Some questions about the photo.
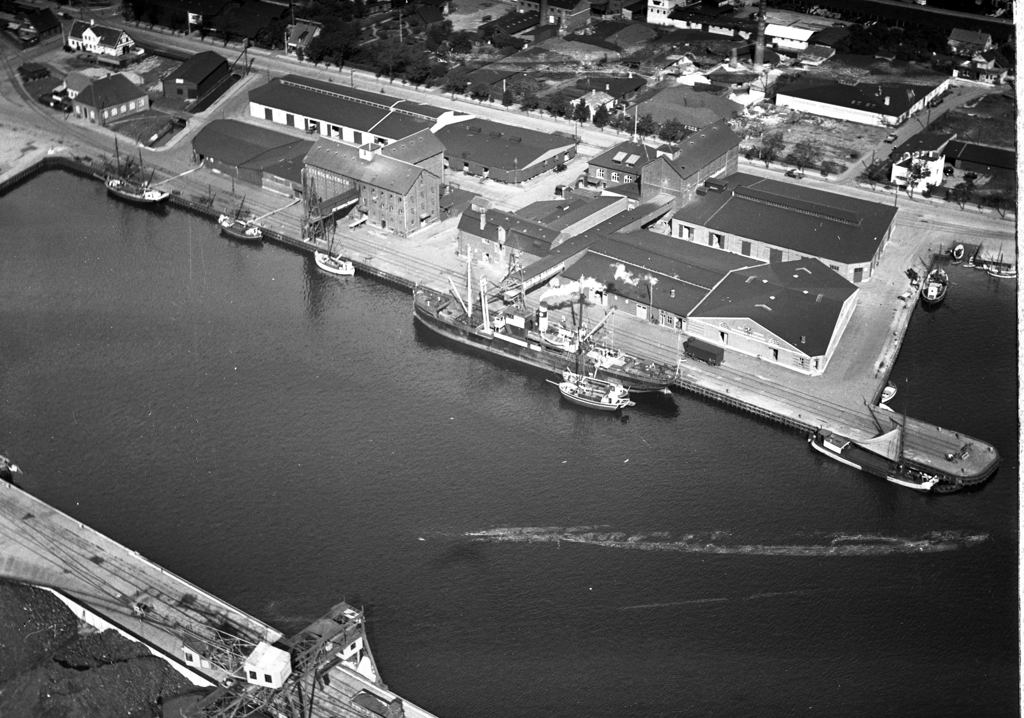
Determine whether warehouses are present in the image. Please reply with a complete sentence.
Yes, a warehouse appears in the view.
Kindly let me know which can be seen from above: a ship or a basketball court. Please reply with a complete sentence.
Looking from above, you can make out a ship.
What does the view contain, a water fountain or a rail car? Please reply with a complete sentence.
The image shows a rail car.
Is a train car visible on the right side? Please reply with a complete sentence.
Yes, a train car can be seen on the right side.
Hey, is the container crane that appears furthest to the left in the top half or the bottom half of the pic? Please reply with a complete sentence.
Seen from above, the container crane that appears furthest to the left lies in the bottom half of the view.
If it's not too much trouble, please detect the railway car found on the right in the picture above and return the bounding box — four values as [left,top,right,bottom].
[682,336,725,364]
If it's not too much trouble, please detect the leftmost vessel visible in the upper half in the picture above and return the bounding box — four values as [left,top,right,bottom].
[100,137,169,205]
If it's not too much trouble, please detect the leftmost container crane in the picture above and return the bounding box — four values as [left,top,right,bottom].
[131,590,394,718]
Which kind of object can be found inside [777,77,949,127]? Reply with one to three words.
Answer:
building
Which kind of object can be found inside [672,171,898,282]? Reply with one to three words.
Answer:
warehouse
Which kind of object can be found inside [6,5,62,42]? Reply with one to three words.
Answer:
house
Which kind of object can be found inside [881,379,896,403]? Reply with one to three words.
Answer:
boat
